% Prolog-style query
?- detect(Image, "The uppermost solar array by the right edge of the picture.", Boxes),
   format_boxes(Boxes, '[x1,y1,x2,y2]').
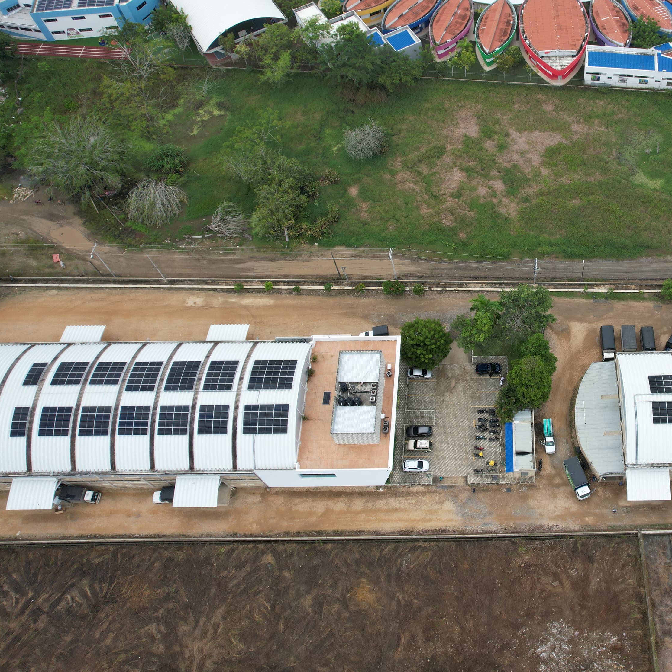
[648,374,672,392]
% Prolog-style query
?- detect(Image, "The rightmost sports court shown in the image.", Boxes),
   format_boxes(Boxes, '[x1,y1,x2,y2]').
[169,1,280,66]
